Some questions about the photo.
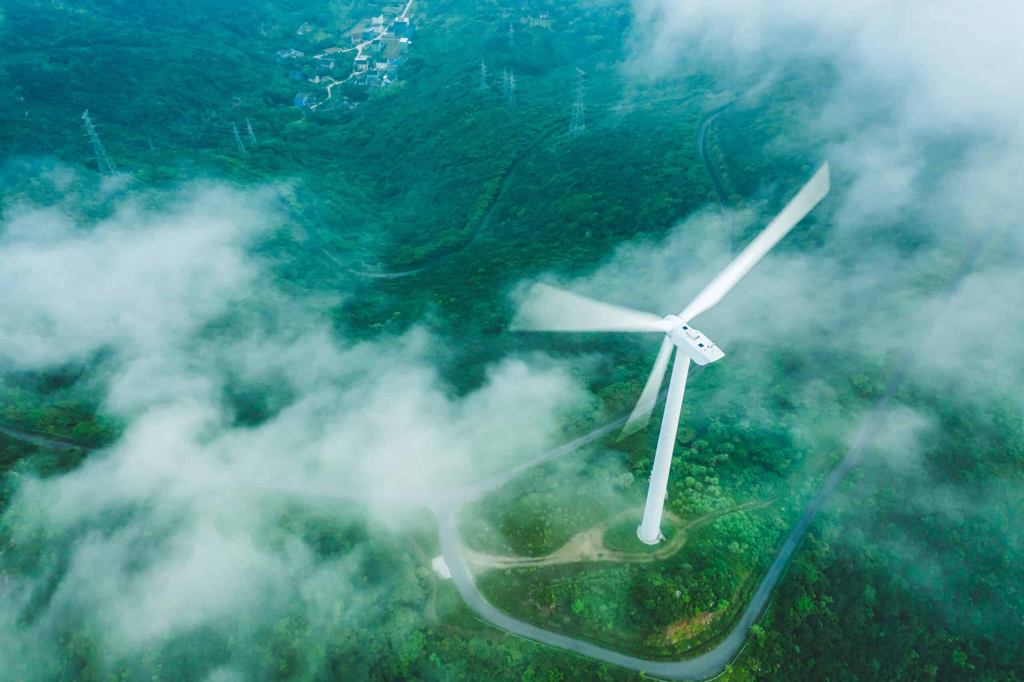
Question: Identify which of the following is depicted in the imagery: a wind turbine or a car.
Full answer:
Looking from above, you can make out a wind turbine.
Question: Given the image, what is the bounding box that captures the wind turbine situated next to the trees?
[521,177,827,544]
